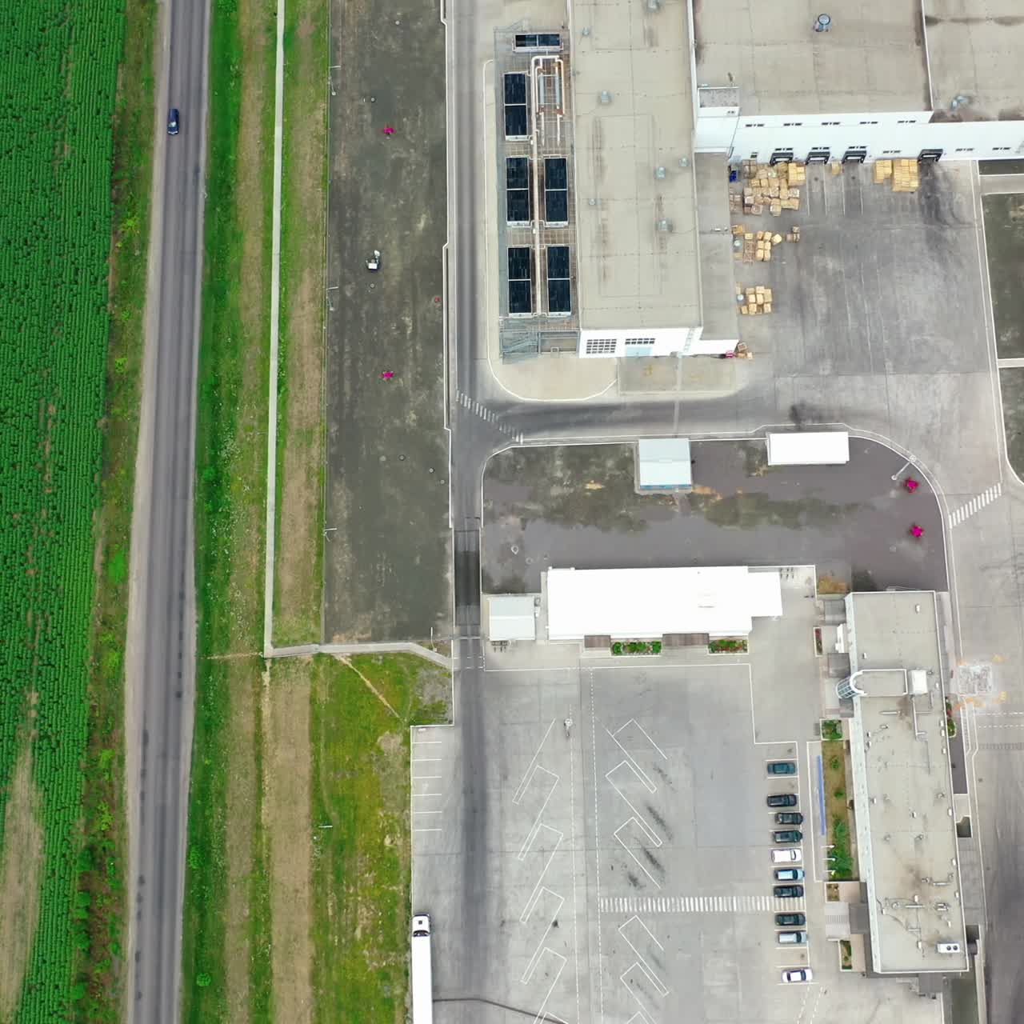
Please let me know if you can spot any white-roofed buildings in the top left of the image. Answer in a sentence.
No, there's no white-roofed building to be seen in the top left of the image.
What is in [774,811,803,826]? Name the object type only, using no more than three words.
car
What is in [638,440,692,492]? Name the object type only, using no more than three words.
building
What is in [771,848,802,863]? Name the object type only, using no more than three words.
car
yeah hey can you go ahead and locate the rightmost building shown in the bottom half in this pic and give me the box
[843,590,969,972]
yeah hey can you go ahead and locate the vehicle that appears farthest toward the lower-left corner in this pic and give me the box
[412,919,433,1024]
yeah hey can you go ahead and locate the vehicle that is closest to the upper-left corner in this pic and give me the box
[167,111,180,134]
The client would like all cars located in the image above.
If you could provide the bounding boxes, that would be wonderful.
[167,111,180,134]
[765,761,794,775]
[774,913,806,928]
[781,968,812,983]
[774,811,803,826]
[773,829,802,844]
[771,848,802,863]
[777,929,807,944]
[765,793,797,808]
[772,884,803,899]
[774,868,805,882]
